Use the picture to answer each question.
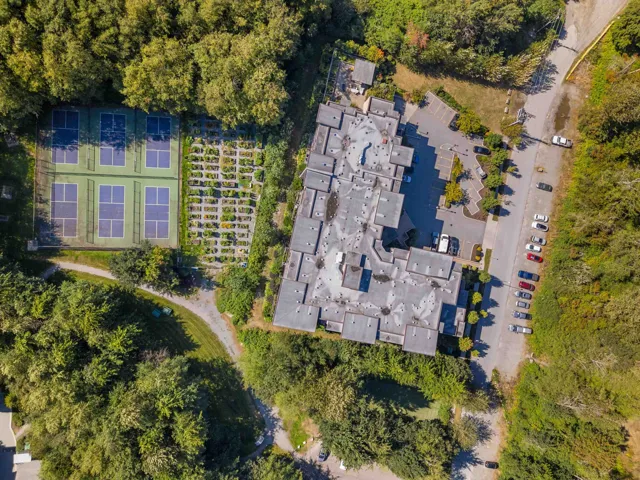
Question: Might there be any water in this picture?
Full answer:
No, the picture contains no water.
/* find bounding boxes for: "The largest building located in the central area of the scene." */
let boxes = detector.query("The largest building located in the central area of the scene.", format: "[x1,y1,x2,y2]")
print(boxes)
[273,97,469,354]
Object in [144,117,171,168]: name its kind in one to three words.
sports court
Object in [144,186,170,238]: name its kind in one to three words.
sports court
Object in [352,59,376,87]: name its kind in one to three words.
building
